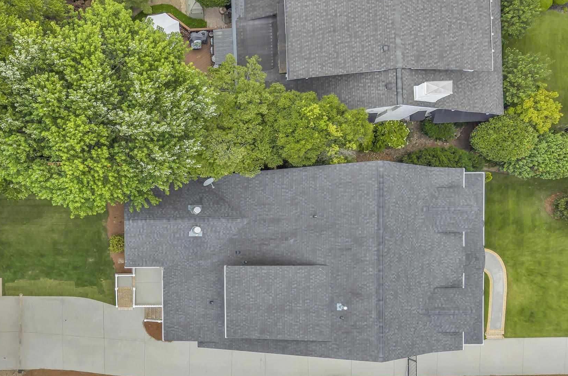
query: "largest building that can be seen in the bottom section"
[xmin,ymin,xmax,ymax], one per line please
[124,161,488,362]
